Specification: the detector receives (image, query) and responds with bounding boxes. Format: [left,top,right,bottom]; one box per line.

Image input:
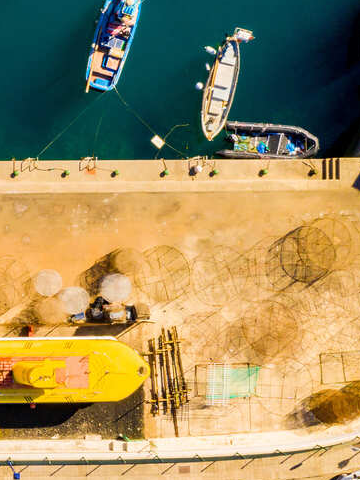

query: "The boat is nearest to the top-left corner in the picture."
[85,0,143,94]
